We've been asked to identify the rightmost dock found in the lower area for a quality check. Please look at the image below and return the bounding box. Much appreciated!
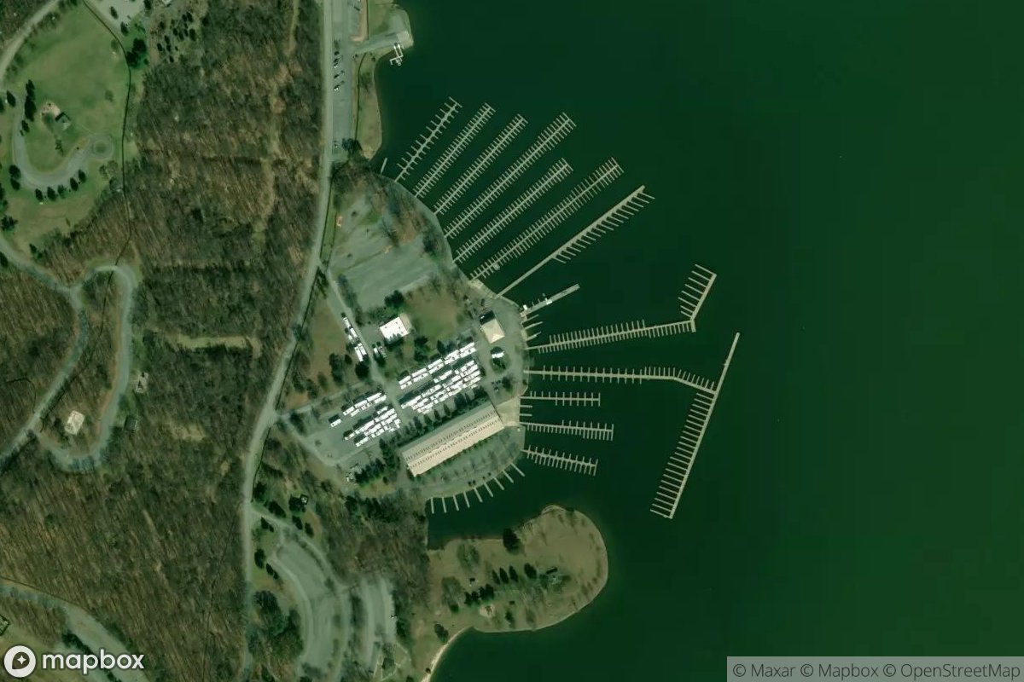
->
[650,333,739,518]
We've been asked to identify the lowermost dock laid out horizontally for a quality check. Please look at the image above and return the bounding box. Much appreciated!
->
[521,445,598,476]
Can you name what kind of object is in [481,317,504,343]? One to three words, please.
building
